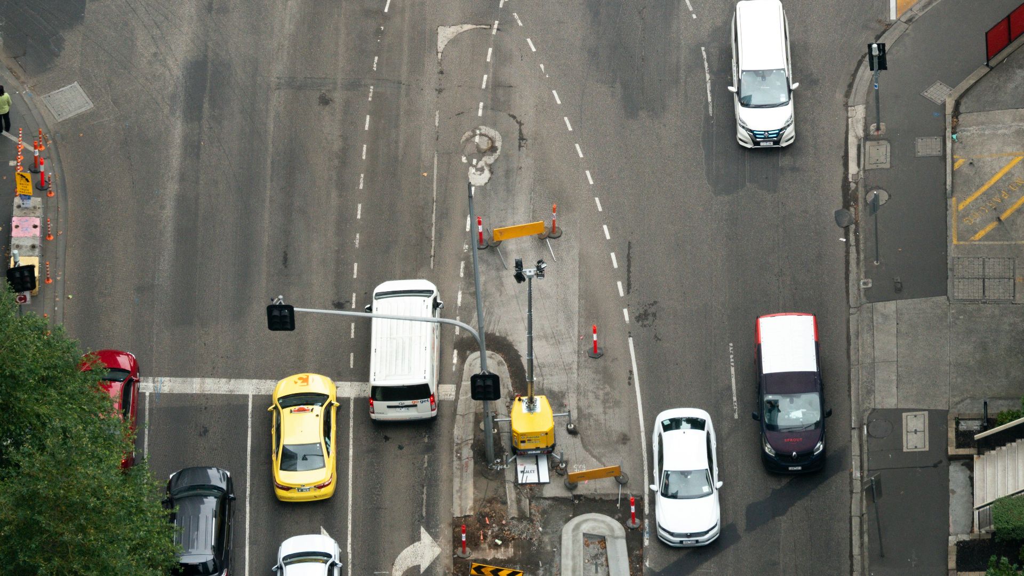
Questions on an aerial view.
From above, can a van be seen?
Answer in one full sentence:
Yes, I can see a van in this picture.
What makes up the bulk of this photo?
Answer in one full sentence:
The largest share of the image is taken up by paved ground.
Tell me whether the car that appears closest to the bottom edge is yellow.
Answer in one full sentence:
No, the car that appears closest to the bottom edge is actually white.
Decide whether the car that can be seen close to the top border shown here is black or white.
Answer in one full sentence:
The car that can be seen close to the top border is white.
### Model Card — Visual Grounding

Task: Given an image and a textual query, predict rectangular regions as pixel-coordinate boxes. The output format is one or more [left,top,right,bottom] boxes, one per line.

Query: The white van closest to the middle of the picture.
[362,279,451,420]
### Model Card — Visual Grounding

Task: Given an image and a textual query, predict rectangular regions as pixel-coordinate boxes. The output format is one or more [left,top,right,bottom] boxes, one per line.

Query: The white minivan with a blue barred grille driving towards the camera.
[727,1,801,148]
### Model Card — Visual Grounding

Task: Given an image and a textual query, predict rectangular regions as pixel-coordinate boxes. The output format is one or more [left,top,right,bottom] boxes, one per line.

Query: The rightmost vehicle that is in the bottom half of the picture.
[747,310,838,473]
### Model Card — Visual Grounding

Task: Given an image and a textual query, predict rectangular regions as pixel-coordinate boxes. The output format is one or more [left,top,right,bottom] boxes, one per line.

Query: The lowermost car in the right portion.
[645,408,727,547]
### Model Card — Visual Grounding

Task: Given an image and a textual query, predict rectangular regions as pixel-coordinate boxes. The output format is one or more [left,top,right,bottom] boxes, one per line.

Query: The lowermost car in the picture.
[266,535,346,576]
